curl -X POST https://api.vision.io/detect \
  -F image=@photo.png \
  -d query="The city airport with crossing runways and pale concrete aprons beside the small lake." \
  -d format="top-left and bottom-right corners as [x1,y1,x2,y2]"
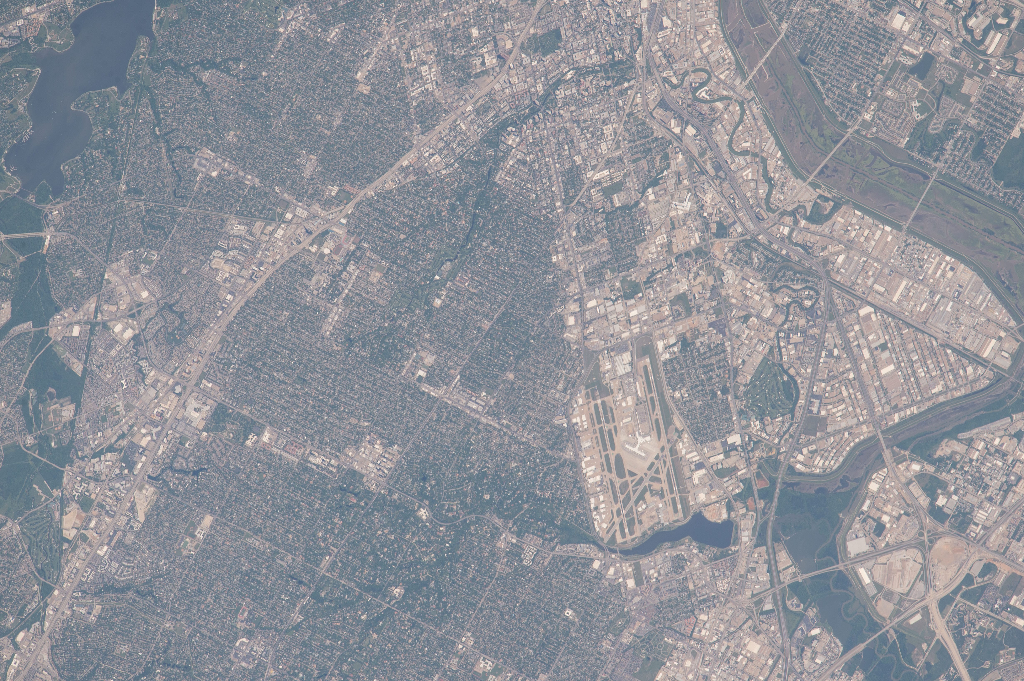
[571,332,697,547]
